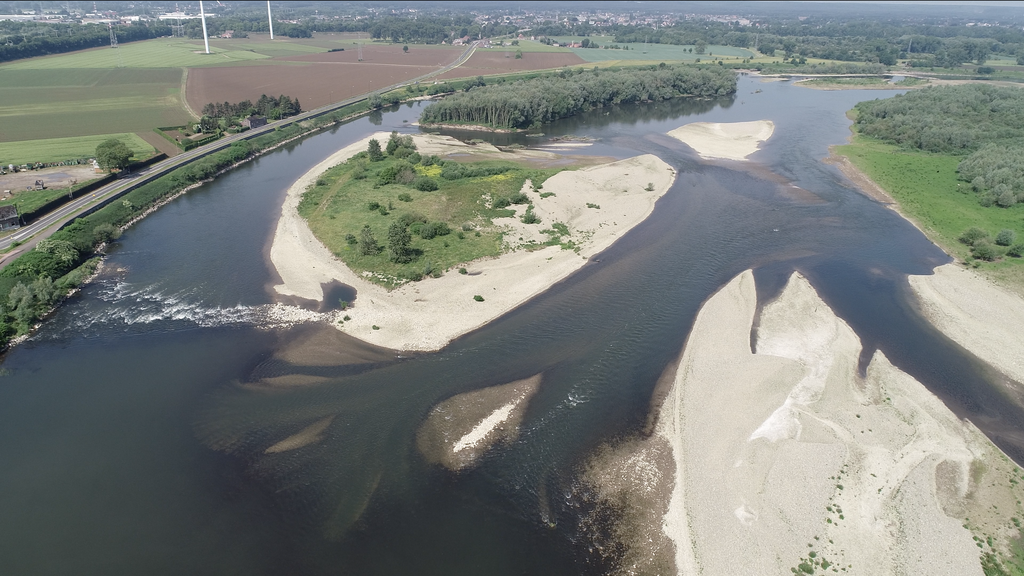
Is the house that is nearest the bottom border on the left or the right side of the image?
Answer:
left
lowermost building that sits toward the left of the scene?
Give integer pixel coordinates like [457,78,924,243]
[0,196,31,235]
